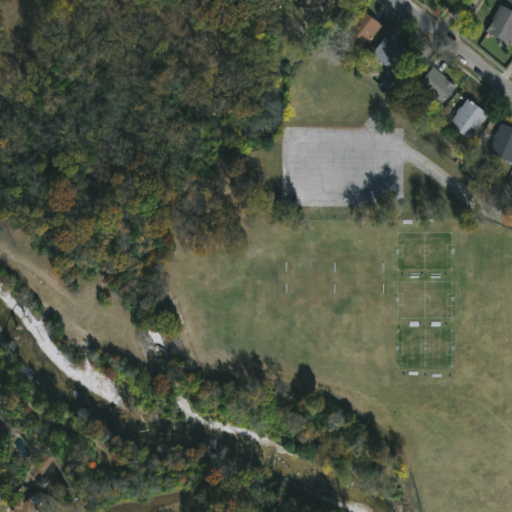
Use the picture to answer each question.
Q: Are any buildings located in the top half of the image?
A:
Yes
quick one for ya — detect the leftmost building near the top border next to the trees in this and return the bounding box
[350,12,380,42]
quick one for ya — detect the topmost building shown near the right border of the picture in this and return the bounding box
[484,3,512,41]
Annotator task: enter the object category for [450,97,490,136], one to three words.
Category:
house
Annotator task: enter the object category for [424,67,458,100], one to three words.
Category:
house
